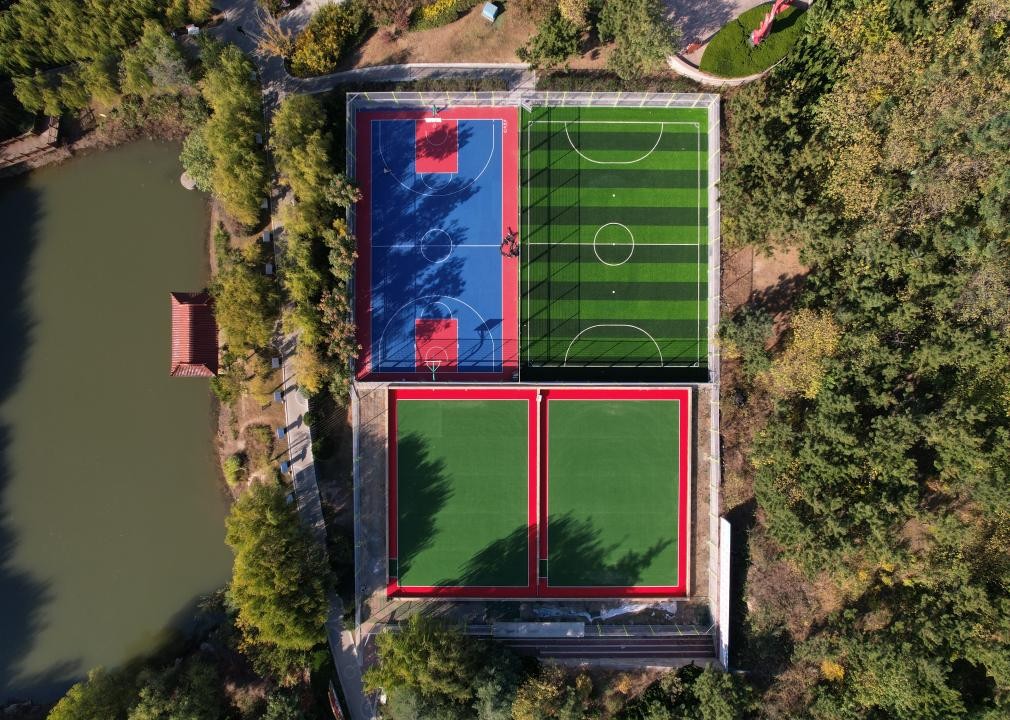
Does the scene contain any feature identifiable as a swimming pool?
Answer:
No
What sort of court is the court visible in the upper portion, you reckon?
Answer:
basketball court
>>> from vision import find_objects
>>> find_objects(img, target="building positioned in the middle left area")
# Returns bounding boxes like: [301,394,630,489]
[169,291,227,379]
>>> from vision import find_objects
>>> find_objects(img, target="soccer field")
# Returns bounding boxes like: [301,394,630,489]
[521,107,709,382]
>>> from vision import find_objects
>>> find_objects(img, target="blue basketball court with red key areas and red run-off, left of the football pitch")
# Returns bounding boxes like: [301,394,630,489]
[356,107,519,382]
